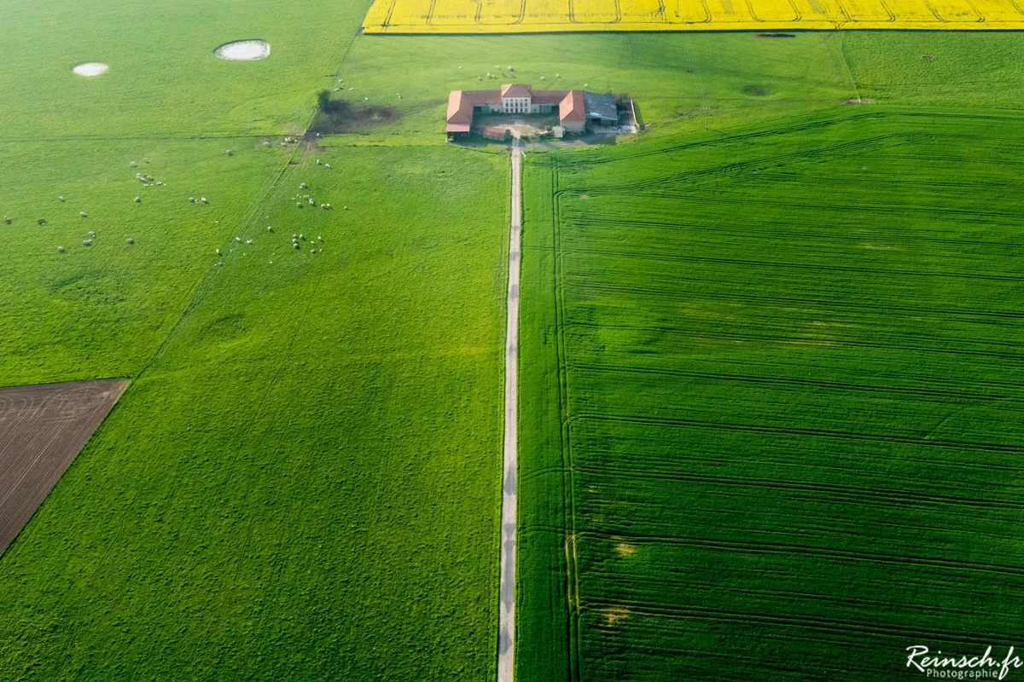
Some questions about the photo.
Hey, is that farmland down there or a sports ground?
farmland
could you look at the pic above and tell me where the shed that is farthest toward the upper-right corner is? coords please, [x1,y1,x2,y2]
[583,90,620,126]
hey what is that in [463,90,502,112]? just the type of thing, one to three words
barn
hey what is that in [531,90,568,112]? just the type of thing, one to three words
barn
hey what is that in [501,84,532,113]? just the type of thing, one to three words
house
